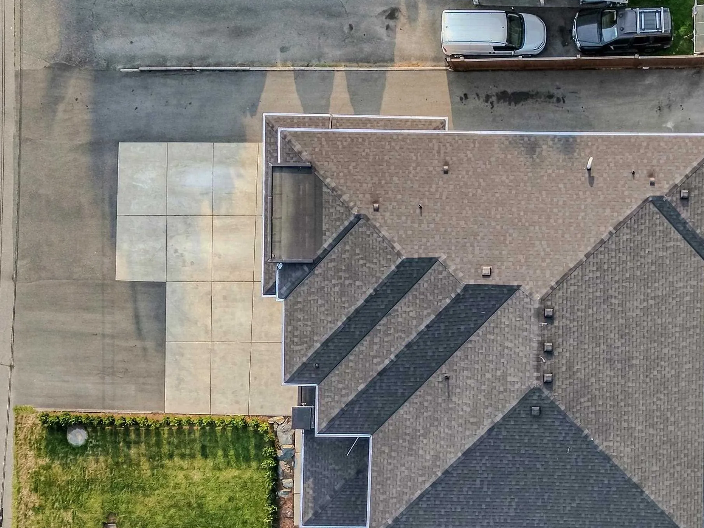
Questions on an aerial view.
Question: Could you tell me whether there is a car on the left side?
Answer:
No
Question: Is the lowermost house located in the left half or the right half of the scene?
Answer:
right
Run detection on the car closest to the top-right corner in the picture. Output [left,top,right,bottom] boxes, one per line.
[573,1,675,52]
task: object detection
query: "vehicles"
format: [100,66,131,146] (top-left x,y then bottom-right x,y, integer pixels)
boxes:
[440,10,546,56]
[573,1,675,52]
